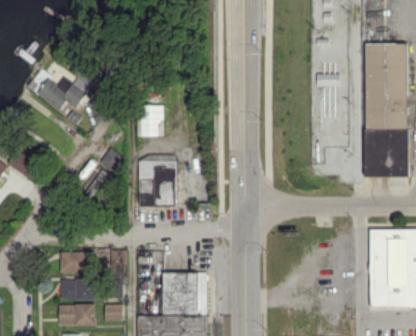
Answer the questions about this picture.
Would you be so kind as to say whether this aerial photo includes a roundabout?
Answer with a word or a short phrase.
No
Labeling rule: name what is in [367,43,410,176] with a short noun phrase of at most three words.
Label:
building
